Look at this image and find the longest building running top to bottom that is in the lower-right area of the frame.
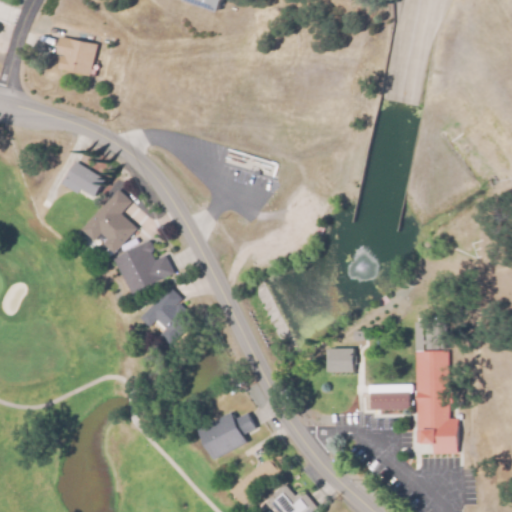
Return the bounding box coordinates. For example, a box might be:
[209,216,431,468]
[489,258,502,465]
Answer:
[416,351,462,456]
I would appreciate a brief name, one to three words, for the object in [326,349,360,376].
building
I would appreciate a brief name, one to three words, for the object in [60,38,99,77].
house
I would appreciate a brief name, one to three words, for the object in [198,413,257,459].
house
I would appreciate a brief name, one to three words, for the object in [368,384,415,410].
building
